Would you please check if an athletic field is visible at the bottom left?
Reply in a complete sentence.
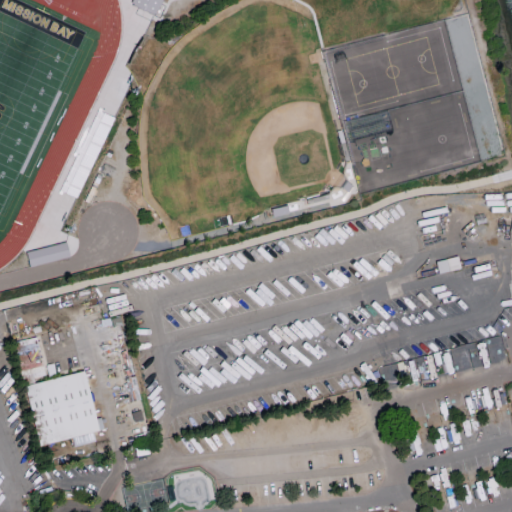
No, I can find no athletic field at the bottom left.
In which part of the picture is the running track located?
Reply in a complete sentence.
The running track is located in the top left region of the scene.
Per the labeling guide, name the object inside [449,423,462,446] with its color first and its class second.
white vehicle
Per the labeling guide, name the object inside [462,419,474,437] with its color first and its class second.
white vehicle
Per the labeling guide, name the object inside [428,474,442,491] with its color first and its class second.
white camper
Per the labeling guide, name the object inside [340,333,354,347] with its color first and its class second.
white camper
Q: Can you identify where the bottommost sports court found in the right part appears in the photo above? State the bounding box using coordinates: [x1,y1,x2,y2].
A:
[346,90,479,192]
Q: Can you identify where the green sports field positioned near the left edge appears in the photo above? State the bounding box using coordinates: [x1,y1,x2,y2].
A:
[0,0,100,242]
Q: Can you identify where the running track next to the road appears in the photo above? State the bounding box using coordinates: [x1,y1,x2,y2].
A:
[0,0,121,270]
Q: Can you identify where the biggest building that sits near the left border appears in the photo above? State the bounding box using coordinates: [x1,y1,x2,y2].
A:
[25,371,99,448]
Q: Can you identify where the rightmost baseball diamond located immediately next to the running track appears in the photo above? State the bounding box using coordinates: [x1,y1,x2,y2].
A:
[140,0,346,240]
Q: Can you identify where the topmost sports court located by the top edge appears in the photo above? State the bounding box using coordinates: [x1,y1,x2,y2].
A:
[324,20,463,120]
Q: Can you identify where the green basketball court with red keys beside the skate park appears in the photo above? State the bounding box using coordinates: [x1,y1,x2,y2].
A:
[122,480,169,512]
